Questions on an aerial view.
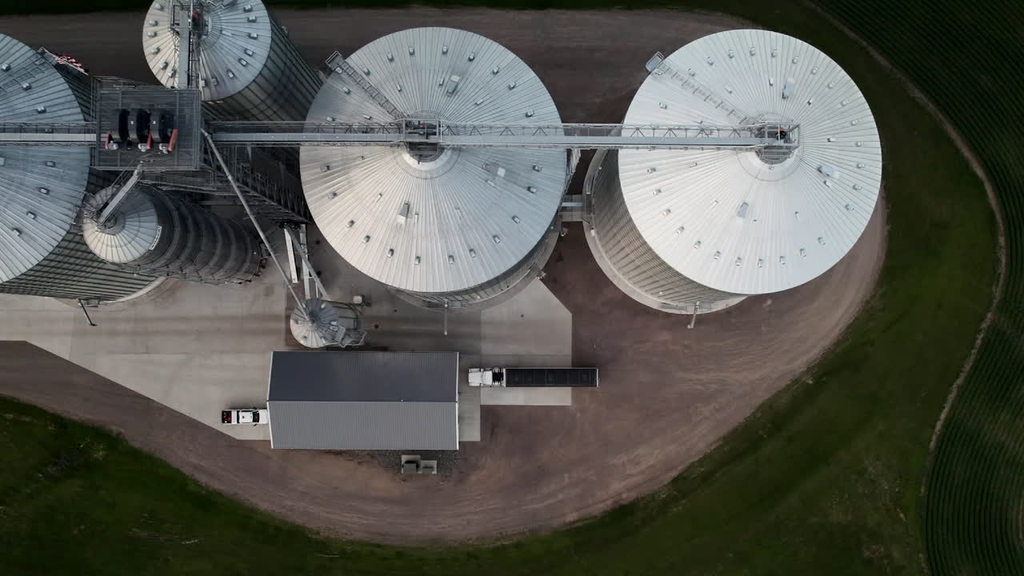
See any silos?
Yes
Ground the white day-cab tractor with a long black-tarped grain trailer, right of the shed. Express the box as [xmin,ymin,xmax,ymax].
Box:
[467,367,600,388]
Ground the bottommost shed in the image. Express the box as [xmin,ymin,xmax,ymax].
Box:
[264,350,462,450]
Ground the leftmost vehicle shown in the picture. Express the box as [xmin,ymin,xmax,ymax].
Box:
[221,407,265,426]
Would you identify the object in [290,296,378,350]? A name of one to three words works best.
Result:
silo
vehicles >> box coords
[467,367,600,388]
[221,407,265,426]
